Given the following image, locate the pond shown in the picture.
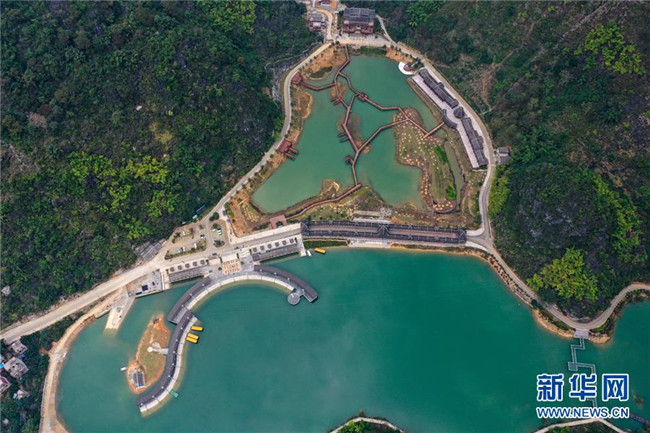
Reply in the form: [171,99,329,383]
[251,52,446,214]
